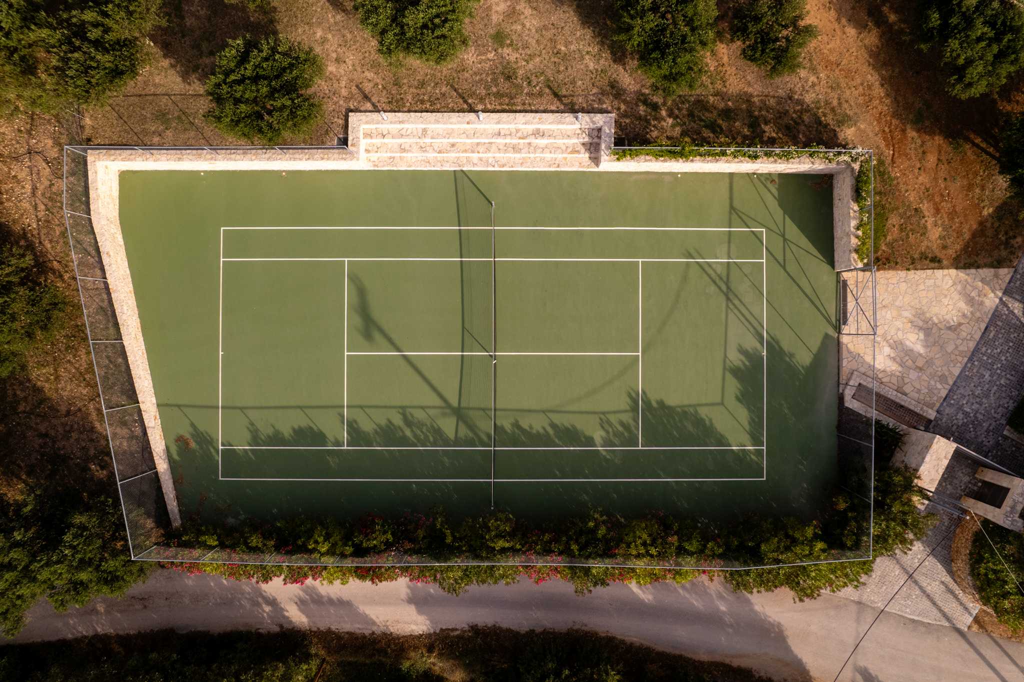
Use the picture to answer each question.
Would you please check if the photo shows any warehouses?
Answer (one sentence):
No, the scene contains no warehouse.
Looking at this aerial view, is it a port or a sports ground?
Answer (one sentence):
The picture captures a sports ground.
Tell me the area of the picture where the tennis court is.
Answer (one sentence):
The tennis court sits in the center section of the image.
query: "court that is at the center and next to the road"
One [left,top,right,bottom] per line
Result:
[118,170,839,531]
